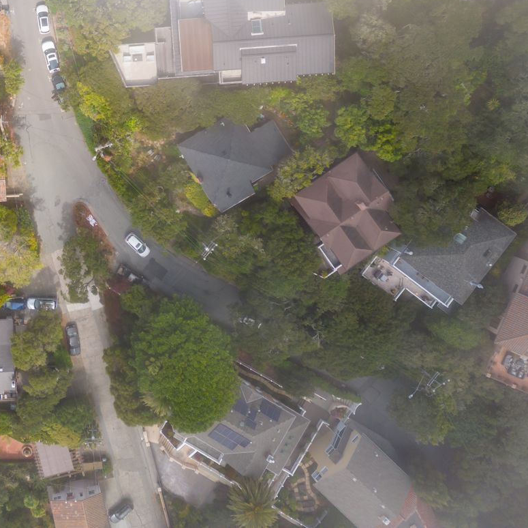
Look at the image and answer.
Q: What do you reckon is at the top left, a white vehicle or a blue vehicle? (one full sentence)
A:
What appears at the top left is a white vehicle.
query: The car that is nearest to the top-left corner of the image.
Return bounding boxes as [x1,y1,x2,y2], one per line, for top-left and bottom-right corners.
[35,3,51,35]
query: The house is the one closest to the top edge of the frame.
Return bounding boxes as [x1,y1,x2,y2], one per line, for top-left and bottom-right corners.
[110,0,335,88]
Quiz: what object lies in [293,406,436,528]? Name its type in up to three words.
house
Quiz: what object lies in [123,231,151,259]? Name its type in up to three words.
car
